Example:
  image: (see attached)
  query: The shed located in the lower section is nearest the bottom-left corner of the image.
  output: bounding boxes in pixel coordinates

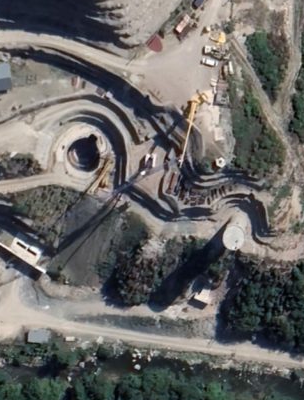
[27,328,50,345]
